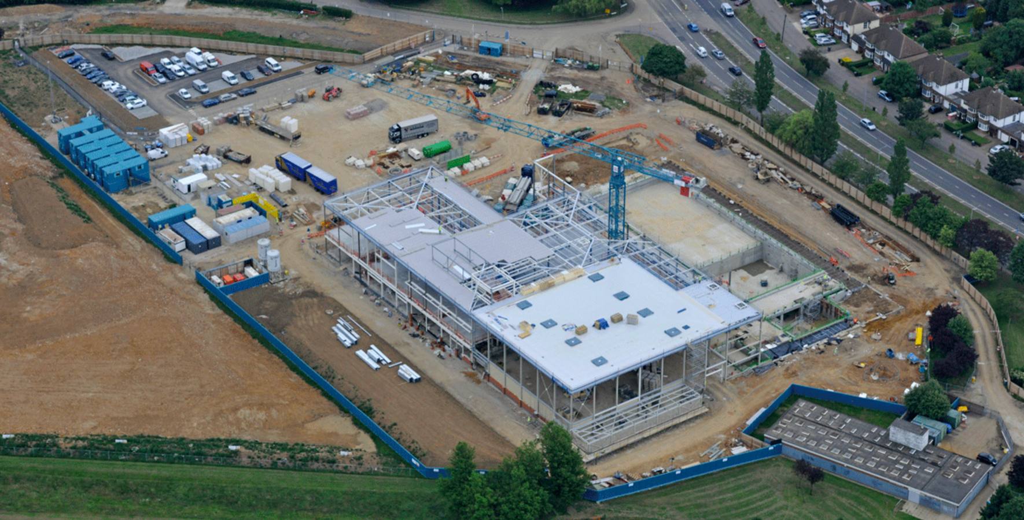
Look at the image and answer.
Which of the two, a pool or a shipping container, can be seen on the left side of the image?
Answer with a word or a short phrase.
shipping container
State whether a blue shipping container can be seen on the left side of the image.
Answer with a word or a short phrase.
Yes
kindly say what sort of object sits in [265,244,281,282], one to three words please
silo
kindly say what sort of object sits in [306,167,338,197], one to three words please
trailer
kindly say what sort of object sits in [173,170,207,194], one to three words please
building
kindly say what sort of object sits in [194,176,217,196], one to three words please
shed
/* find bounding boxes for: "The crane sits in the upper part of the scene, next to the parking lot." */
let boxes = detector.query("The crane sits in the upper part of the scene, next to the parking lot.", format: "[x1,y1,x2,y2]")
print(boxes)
[326,64,706,241]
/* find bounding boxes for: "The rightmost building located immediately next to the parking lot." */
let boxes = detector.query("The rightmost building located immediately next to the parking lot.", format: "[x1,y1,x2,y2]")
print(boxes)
[318,153,769,462]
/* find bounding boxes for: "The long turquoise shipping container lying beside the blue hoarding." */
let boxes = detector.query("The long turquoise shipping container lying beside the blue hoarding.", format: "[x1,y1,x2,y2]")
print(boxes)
[144,202,196,230]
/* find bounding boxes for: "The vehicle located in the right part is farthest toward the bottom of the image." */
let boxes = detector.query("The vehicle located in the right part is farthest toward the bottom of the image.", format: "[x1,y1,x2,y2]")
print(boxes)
[975,450,999,467]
